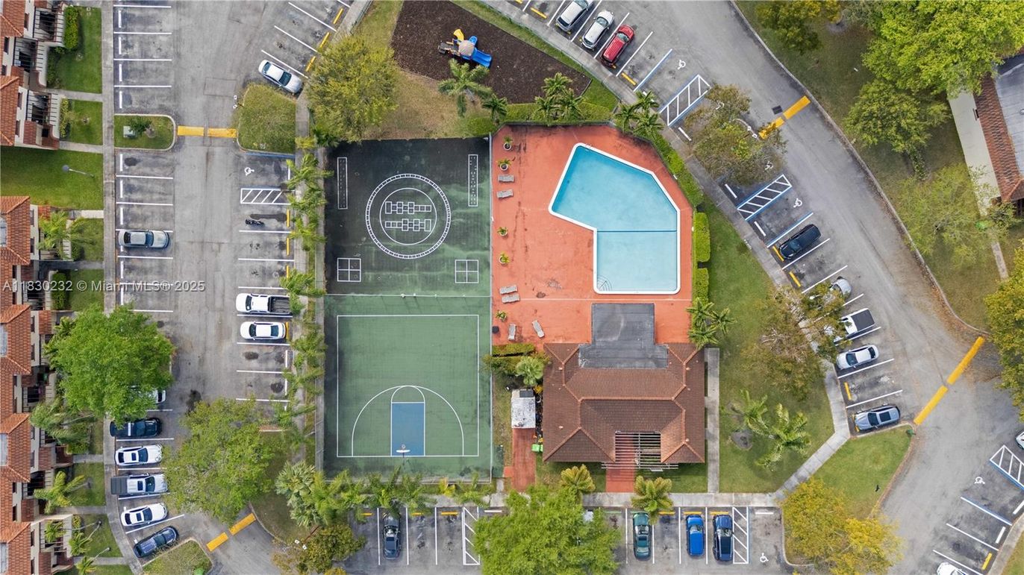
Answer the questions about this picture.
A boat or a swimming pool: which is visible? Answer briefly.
swimming pool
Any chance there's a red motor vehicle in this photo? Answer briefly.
Yes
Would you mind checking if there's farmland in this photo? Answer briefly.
No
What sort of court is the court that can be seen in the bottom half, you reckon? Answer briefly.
basketball court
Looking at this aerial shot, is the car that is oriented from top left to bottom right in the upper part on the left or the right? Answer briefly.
left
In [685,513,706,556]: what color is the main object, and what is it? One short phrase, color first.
blue car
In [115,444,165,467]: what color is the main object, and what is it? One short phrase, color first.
white car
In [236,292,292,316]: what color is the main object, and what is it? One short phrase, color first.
white truck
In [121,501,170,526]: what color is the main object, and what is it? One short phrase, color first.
white car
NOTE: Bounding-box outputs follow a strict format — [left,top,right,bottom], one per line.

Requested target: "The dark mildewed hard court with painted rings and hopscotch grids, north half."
[324,138,491,295]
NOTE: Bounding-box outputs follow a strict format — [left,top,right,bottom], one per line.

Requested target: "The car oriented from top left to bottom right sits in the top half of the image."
[258,58,305,95]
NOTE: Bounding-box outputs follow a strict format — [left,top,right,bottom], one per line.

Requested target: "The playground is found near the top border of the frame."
[438,27,493,67]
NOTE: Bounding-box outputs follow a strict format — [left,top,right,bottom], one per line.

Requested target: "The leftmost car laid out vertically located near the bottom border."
[380,510,402,559]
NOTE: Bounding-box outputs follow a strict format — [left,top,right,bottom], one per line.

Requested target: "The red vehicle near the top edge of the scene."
[600,22,637,69]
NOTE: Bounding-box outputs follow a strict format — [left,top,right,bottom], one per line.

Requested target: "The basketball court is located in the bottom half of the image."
[323,295,491,479]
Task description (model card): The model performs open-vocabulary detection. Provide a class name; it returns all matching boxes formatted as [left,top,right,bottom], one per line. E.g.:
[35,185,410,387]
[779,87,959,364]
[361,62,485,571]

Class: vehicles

[933,560,967,575]
[115,444,165,467]
[581,9,615,51]
[236,292,292,316]
[131,525,182,560]
[810,274,855,307]
[630,510,653,559]
[109,472,171,497]
[710,512,734,561]
[600,22,637,69]
[119,227,171,250]
[121,501,170,526]
[241,320,288,342]
[243,217,263,225]
[851,404,901,432]
[554,0,595,37]
[775,223,823,261]
[380,510,402,559]
[109,416,164,441]
[685,513,706,556]
[833,342,880,370]
[817,309,876,346]
[258,58,305,95]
